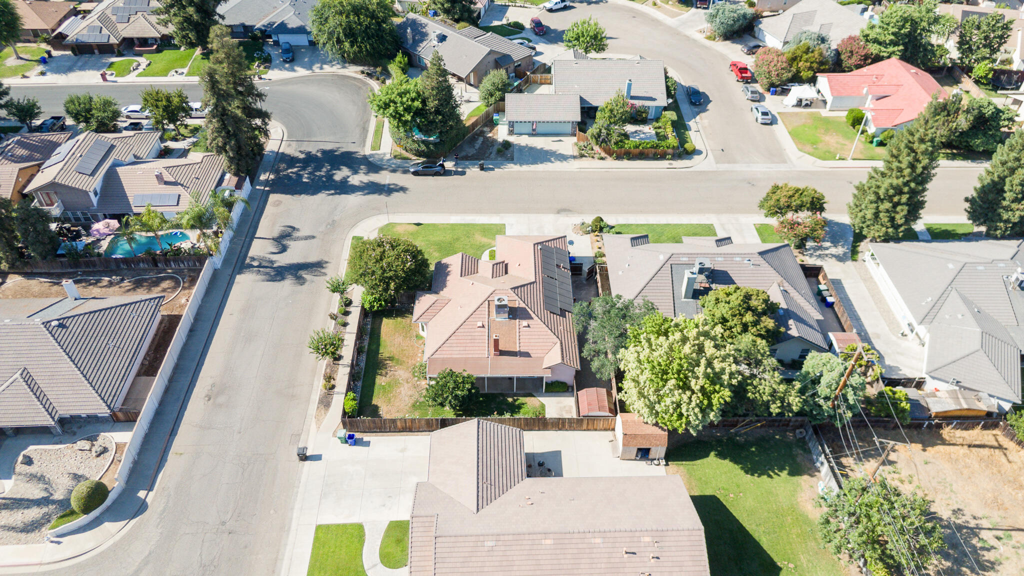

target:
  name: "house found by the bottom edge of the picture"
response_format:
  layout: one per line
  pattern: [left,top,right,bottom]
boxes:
[406,419,707,576]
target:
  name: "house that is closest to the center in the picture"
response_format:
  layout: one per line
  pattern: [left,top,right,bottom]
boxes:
[411,235,581,390]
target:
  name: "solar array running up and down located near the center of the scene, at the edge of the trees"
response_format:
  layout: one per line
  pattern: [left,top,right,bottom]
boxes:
[542,240,576,331]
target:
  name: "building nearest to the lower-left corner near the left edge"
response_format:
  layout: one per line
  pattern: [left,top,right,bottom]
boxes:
[0,285,164,440]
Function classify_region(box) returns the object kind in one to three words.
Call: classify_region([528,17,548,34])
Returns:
car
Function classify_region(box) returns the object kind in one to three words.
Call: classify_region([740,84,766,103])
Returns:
car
